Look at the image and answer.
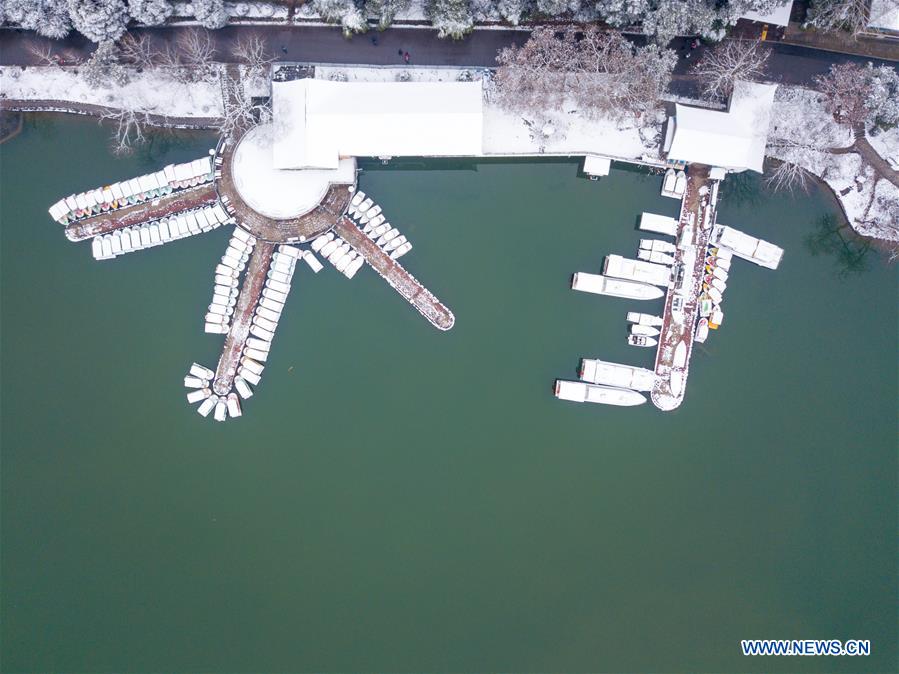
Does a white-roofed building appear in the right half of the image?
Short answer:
Yes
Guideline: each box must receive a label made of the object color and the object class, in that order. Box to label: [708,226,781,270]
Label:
white vessel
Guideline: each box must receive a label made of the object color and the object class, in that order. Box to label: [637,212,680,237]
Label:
white boat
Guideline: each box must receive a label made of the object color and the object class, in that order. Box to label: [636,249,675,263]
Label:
white boat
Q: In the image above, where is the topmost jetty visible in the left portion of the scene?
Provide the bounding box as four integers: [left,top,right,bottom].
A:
[61,184,219,243]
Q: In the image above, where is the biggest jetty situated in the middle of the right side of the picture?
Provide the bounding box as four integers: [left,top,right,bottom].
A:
[650,164,720,412]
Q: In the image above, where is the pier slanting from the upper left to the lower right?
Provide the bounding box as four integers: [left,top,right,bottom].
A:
[331,214,454,331]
